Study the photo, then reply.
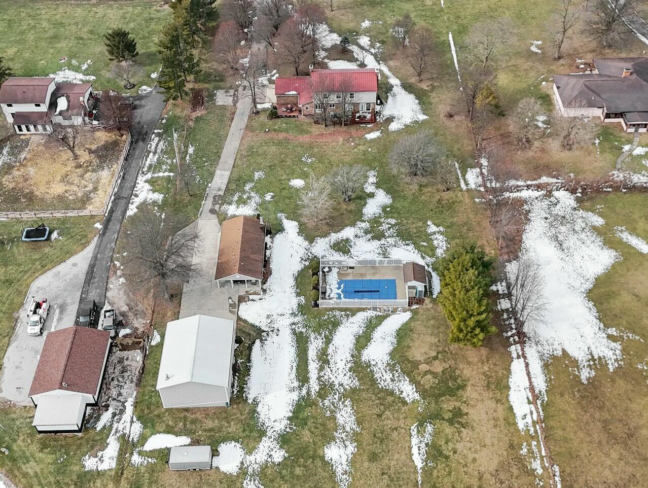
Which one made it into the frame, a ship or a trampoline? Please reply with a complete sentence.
I can see a trampoline in this picture.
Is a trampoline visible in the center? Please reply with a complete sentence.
No, I see no trampoline in the center.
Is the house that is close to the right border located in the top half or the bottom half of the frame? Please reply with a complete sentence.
You can find the house that is close to the right border in the top half.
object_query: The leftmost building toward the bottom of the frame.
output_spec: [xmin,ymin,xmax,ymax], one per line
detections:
[27,325,115,437]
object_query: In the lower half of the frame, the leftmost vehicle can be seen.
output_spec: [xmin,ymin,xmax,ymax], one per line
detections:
[24,293,51,334]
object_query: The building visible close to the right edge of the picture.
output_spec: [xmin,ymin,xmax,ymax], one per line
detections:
[555,57,648,135]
